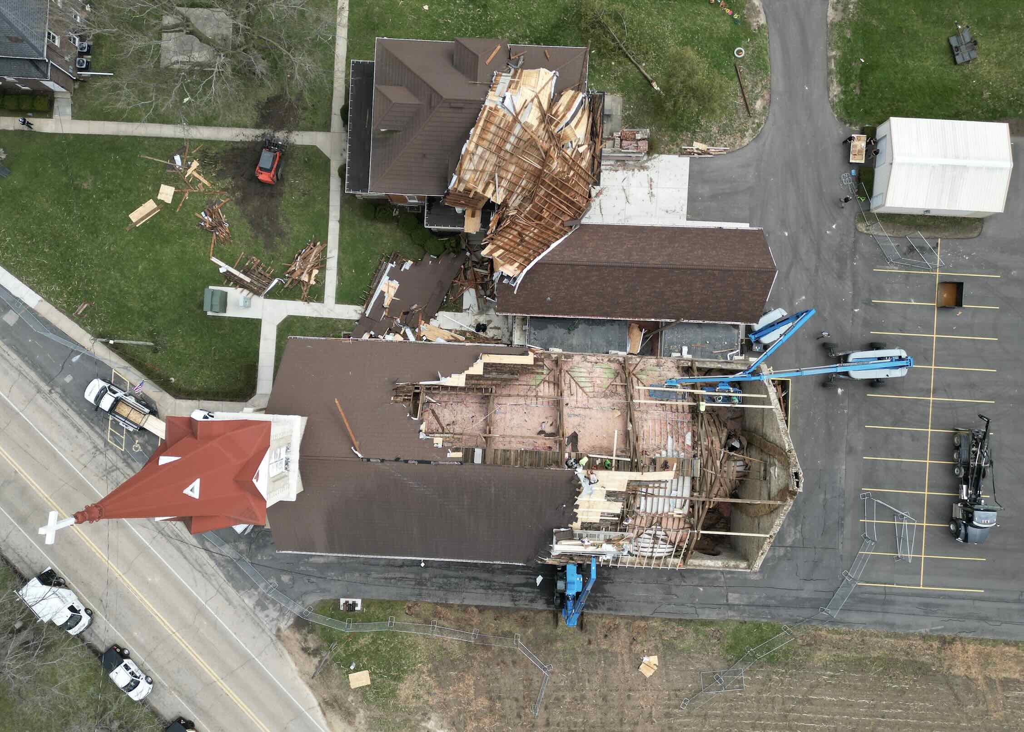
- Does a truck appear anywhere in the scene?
Yes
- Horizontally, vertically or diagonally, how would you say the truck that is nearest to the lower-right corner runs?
vertically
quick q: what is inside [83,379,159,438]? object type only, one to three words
truck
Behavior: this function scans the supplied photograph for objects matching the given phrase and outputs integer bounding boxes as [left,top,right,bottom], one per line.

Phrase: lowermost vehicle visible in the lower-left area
[151,705,196,732]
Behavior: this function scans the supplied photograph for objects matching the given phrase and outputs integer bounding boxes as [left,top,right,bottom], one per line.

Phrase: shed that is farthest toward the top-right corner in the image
[871,116,1016,218]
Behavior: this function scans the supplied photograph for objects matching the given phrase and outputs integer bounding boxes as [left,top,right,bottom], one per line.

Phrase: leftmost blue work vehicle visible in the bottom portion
[556,557,597,628]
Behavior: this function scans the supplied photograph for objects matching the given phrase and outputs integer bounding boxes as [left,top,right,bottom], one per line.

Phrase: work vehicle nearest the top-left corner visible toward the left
[249,134,285,181]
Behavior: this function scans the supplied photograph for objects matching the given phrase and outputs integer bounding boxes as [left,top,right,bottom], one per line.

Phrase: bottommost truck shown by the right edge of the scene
[956,424,1011,548]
